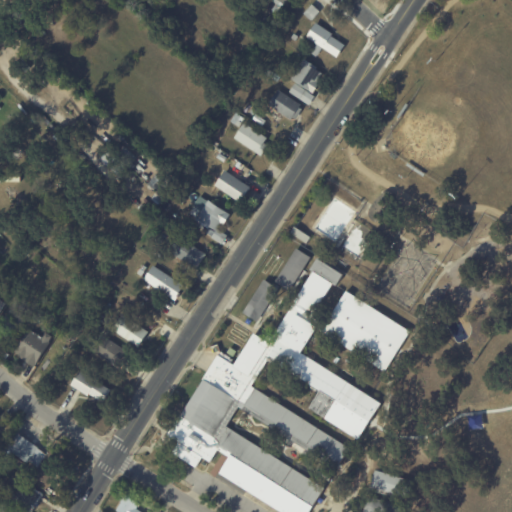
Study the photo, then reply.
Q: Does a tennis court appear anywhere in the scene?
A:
Yes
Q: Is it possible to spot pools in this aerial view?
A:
Yes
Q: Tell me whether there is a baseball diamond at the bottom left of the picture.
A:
No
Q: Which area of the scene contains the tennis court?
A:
right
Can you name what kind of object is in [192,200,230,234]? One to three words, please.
house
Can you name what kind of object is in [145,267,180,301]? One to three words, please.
house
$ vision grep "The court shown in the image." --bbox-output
[380,241,436,308]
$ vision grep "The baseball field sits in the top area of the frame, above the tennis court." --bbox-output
[390,94,463,173]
